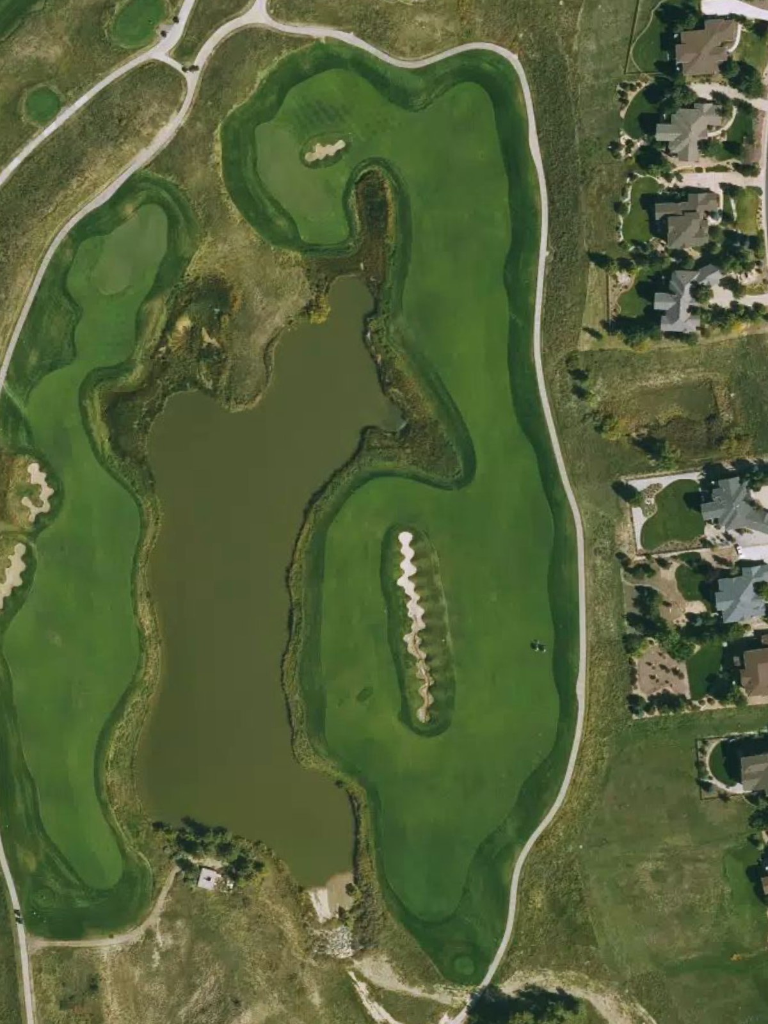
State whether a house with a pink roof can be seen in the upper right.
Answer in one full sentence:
No, the scene shows no house with a pink roof in the upper right.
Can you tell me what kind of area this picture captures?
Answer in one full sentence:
The picture captures a golf course.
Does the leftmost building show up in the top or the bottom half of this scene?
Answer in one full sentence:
It is in the bottom half that the leftmost building appears.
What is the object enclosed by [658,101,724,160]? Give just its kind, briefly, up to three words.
house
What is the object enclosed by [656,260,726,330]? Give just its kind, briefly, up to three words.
house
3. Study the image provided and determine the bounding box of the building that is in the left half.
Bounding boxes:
[197,868,218,891]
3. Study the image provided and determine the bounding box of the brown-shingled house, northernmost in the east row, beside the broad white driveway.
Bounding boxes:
[678,17,739,73]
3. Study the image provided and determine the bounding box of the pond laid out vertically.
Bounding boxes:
[136,275,406,888]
